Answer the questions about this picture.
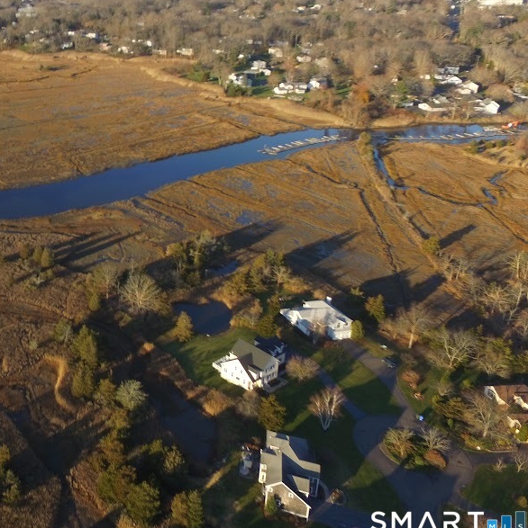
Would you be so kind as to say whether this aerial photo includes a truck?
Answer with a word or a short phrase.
No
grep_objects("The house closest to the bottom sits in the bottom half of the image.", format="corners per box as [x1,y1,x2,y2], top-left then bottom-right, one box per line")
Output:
[265,440,336,523]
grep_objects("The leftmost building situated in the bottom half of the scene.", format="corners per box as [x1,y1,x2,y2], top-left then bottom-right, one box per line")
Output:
[212,332,294,399]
